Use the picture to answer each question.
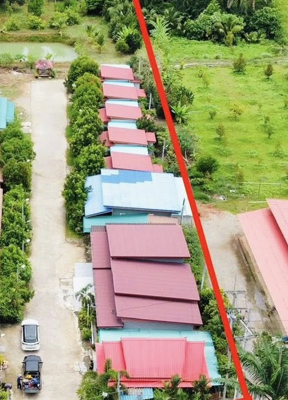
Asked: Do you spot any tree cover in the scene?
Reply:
Yes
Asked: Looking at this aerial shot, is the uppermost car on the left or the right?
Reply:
left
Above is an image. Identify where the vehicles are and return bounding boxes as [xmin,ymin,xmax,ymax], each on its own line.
[20,322,40,354]
[21,355,44,399]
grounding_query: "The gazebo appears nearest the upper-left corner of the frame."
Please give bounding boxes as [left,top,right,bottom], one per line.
[34,54,56,78]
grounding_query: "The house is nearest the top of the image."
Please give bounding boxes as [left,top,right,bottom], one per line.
[96,63,133,92]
